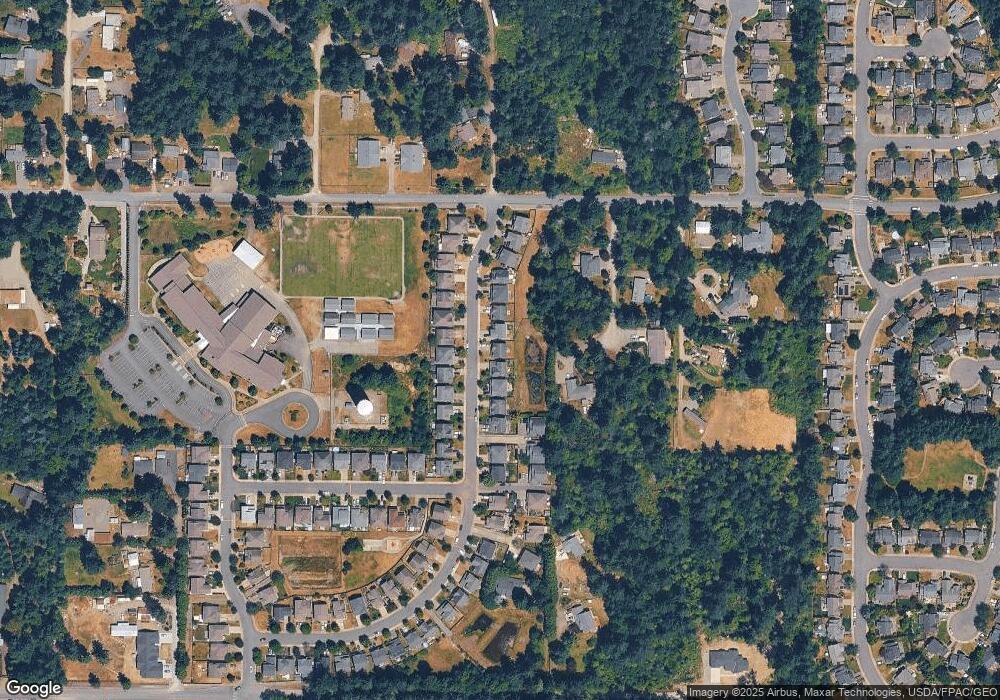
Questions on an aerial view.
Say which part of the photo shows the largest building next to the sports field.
left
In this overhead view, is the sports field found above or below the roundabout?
above it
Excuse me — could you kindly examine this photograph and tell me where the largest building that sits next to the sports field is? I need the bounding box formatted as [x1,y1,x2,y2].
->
[148,253,286,391]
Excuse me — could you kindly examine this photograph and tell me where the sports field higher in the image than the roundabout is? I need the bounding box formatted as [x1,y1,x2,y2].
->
[278,215,406,302]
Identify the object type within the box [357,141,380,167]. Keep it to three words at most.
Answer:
barn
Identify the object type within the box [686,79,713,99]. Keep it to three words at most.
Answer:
house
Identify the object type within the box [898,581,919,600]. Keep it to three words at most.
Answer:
house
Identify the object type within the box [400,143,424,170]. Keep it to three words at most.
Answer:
barn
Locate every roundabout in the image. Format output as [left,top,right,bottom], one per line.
[229,388,321,443]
